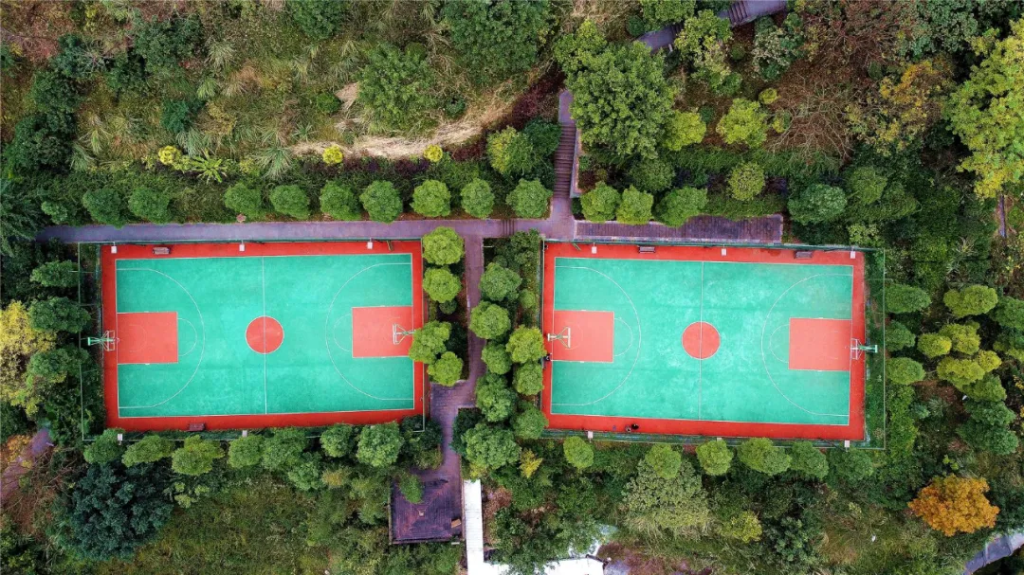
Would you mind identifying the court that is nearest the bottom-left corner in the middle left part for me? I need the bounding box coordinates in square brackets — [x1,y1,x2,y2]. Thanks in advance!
[100,237,431,431]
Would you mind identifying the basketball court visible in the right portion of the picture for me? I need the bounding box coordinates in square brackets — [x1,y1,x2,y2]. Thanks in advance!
[539,241,867,441]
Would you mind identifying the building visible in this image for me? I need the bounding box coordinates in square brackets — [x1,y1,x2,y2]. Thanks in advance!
[393,477,451,541]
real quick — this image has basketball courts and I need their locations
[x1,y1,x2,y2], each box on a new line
[100,237,431,431]
[539,241,867,441]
